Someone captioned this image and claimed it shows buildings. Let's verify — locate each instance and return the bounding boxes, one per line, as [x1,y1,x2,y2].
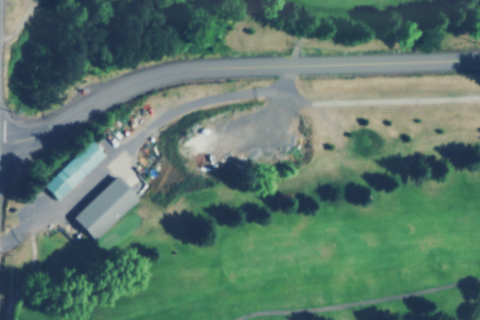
[46,143,107,202]
[76,178,139,242]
